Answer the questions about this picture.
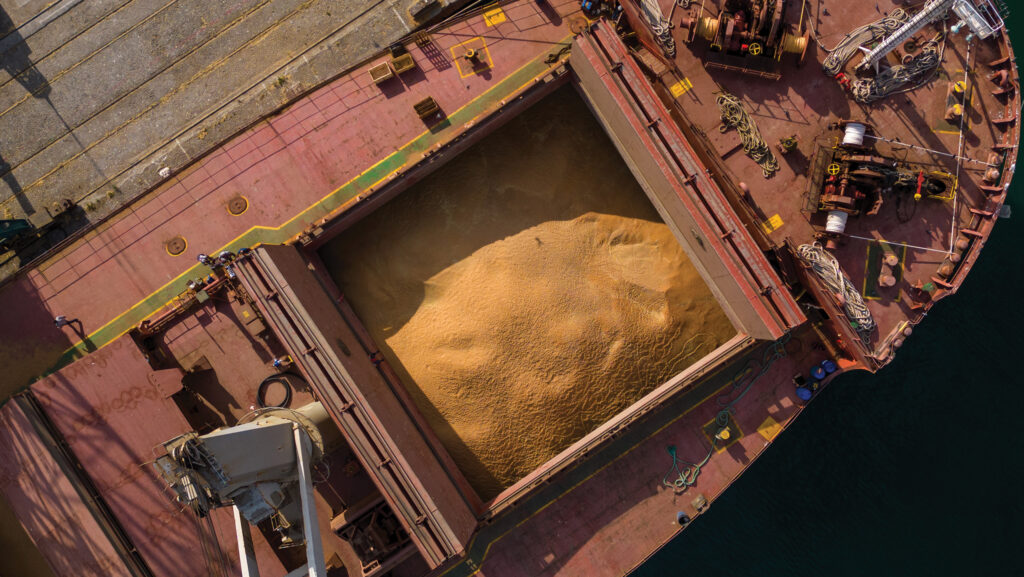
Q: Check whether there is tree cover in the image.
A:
No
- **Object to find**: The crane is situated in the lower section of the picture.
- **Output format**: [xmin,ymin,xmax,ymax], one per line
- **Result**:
[140,396,345,577]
